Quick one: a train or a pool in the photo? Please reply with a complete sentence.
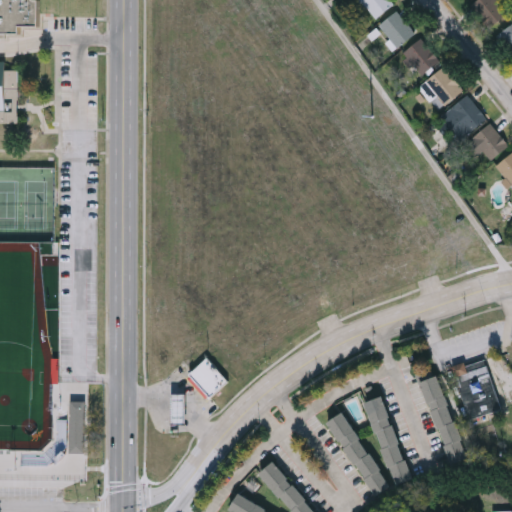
The image shows a pool.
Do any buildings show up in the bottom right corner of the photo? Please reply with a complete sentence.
Yes, a building shows up in the bottom right corner of the photo.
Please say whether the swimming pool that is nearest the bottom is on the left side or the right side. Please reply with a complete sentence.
It is on the right.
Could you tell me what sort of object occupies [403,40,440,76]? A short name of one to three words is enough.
house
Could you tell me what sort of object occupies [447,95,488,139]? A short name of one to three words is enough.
house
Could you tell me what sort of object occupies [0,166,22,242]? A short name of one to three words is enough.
tennis court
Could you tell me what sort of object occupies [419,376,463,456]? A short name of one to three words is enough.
building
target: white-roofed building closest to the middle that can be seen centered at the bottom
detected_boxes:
[188,358,229,400]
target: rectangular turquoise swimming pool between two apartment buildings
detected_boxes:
[344,396,368,424]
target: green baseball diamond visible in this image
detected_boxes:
[0,244,52,449]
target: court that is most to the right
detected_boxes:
[22,166,54,242]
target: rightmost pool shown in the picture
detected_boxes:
[490,182,507,208]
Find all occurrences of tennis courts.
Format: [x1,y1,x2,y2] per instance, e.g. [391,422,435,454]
[22,166,54,242]
[0,166,22,242]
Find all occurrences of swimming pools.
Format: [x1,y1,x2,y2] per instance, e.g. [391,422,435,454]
[344,396,368,424]
[490,182,507,208]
